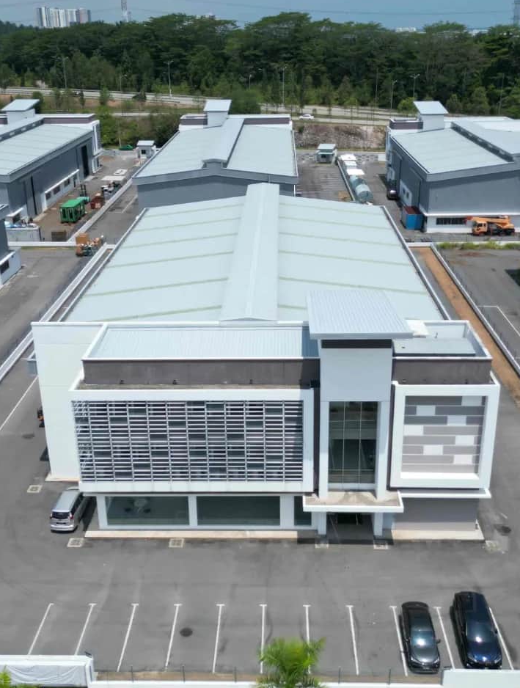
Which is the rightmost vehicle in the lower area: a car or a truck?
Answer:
car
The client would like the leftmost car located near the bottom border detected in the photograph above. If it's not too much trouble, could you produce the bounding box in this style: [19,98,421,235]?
[397,598,443,667]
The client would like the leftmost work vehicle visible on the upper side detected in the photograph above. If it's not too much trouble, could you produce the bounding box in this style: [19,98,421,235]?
[73,230,98,255]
